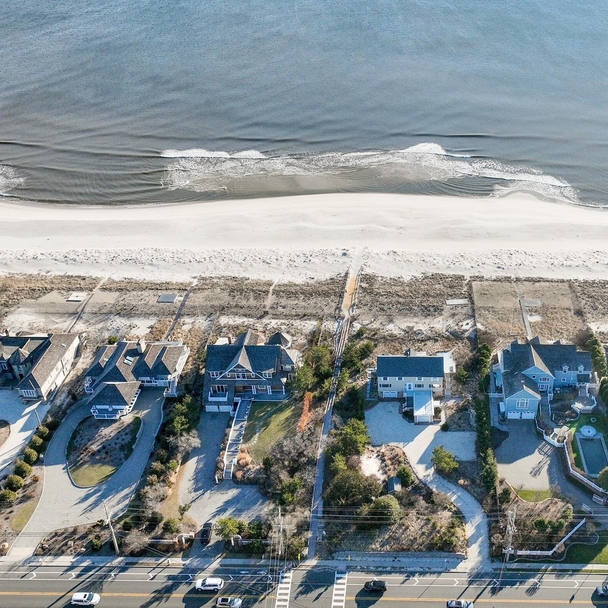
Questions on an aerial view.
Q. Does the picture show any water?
Yes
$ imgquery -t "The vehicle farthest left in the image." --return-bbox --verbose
[69,591,101,607]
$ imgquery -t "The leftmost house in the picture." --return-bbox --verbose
[0,333,77,411]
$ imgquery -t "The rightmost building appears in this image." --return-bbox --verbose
[488,332,605,418]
